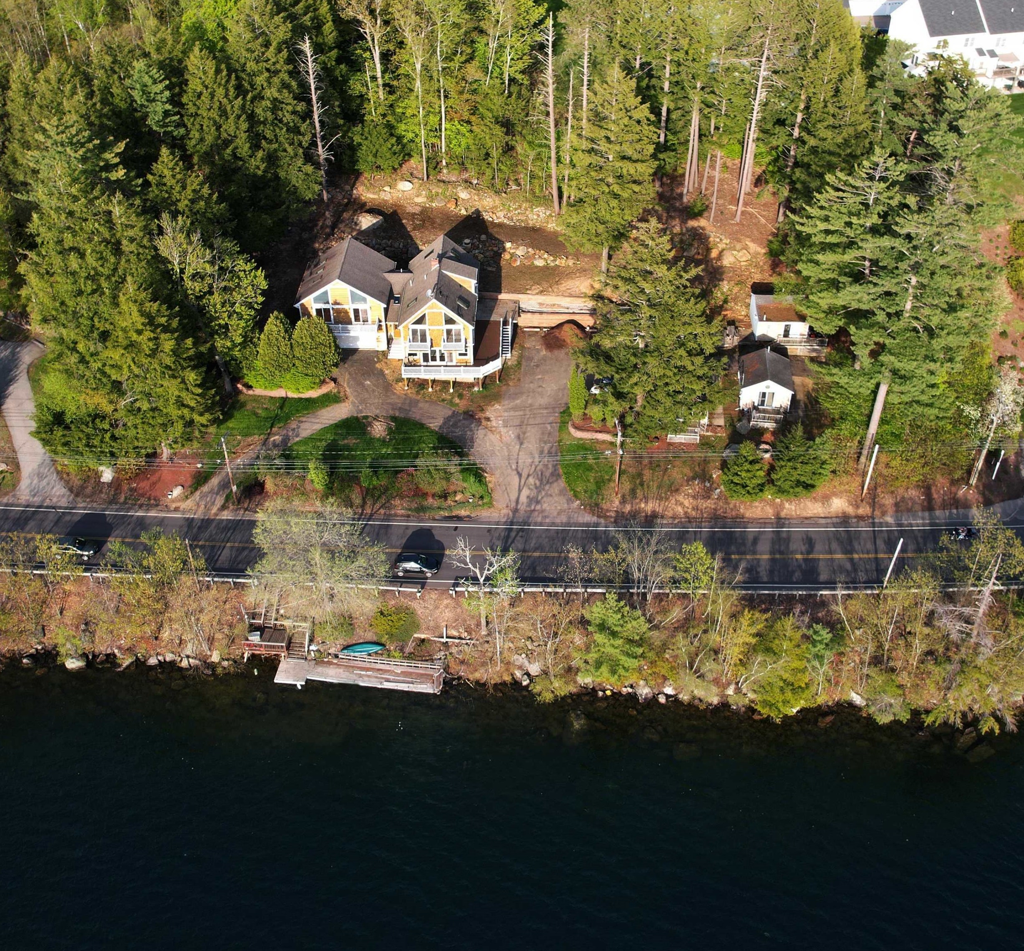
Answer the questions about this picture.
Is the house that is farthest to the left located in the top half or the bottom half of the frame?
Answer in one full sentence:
The house that is farthest to the left is in the top half of the image.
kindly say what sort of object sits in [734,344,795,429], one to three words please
house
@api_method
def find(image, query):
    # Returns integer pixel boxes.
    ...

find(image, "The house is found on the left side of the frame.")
[293,232,483,365]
